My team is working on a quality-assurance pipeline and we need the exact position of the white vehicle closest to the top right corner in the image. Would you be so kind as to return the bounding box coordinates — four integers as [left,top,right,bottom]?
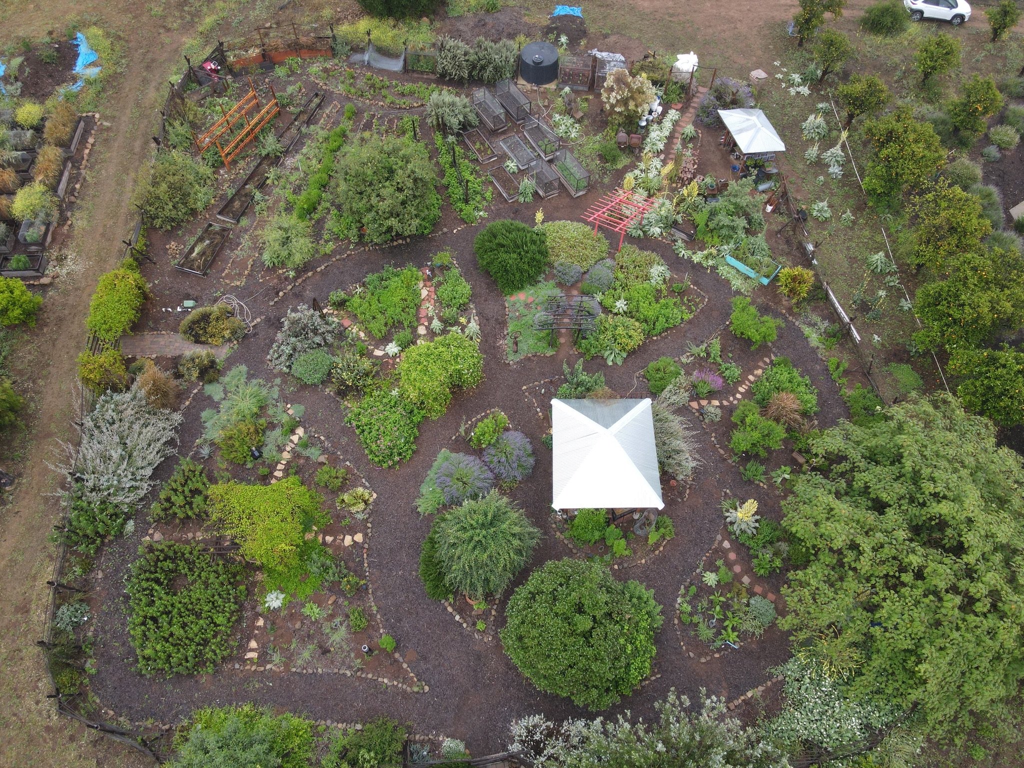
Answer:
[908,0,978,28]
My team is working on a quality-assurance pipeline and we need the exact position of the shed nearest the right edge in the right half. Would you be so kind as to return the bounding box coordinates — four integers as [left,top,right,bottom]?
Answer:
[714,108,788,180]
